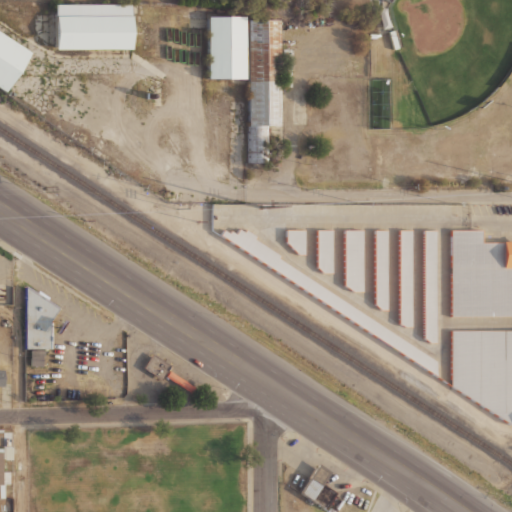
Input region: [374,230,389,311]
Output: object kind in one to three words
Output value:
building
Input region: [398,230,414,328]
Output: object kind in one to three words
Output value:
building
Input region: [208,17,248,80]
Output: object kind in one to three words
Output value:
barn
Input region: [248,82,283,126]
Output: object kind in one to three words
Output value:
shed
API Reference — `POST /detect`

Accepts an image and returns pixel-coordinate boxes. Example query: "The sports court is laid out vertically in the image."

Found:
[370,78,391,128]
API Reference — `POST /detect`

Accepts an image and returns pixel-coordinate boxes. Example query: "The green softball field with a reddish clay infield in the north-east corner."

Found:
[395,0,512,124]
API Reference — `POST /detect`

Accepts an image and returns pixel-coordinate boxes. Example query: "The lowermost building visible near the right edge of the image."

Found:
[450,331,512,424]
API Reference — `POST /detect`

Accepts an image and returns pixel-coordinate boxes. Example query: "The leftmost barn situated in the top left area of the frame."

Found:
[0,32,32,93]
